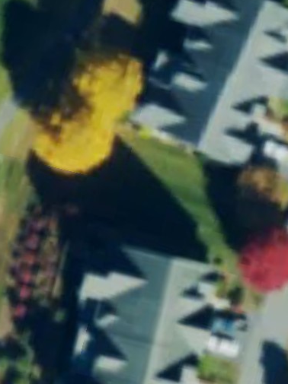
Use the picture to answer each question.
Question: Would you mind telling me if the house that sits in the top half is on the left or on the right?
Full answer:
It is on the right.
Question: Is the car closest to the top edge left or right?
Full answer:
The car closest to the top edge sits on the right side.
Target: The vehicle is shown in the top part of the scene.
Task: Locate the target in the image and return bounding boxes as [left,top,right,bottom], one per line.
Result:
[264,140,288,162]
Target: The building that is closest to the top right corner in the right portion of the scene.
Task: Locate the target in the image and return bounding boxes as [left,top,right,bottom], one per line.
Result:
[134,0,288,170]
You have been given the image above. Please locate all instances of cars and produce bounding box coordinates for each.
[211,338,239,354]
[215,320,239,334]
[264,140,288,162]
